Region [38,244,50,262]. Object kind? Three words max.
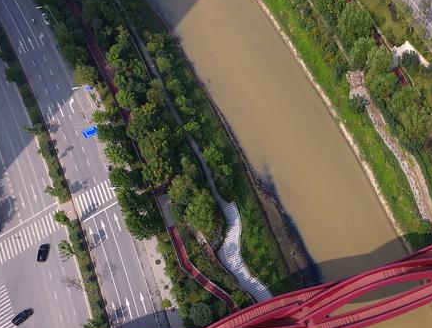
vehicle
